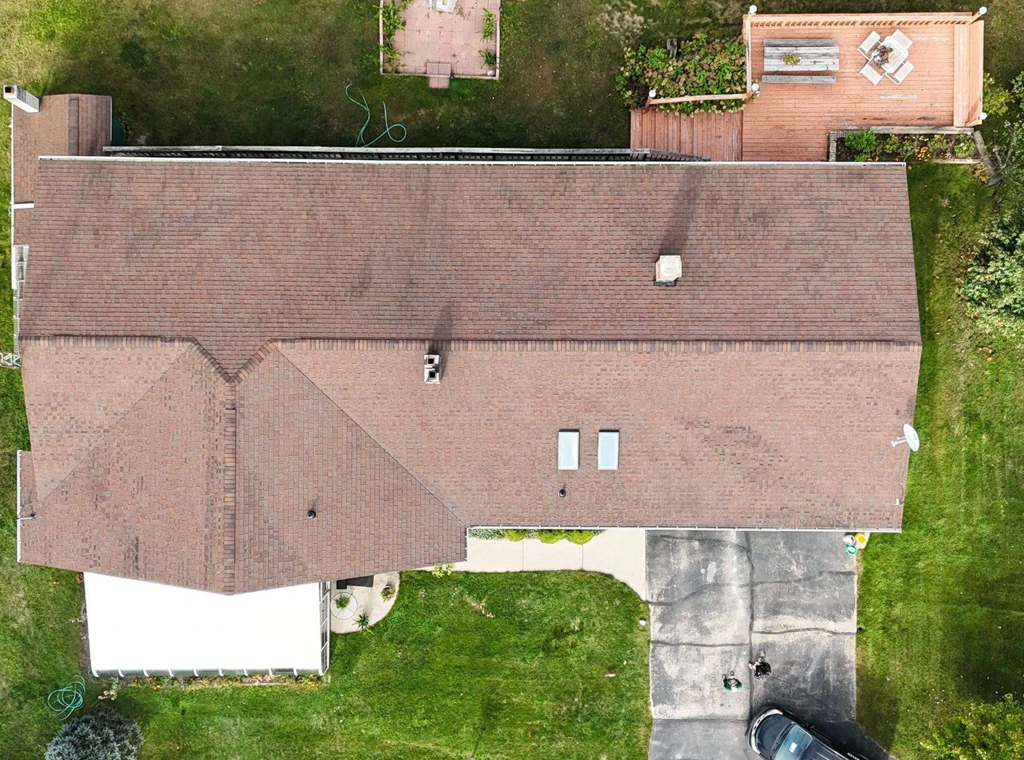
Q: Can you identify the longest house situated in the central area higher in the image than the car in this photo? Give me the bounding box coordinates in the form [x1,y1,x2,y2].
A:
[16,155,923,596]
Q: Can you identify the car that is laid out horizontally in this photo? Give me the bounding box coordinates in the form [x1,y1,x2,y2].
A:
[745,703,887,760]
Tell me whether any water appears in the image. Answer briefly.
No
